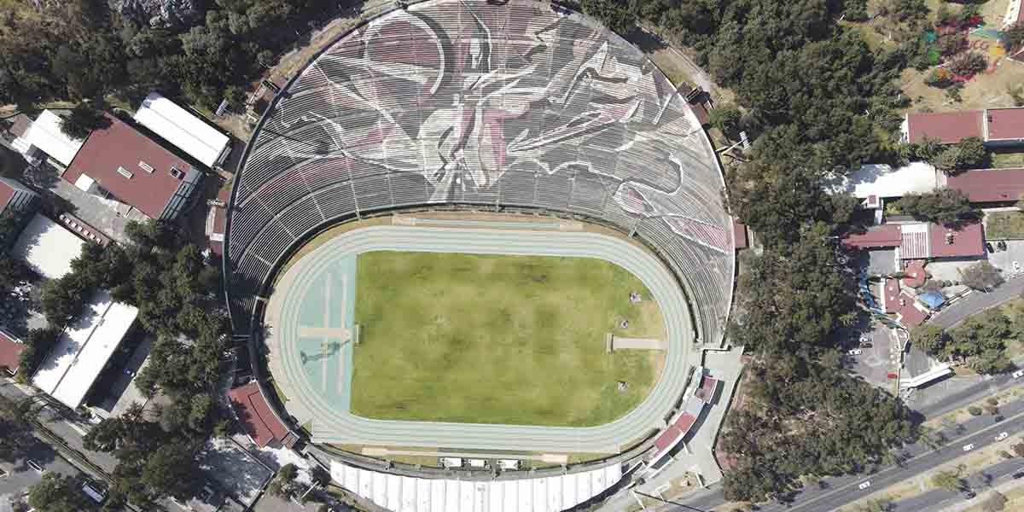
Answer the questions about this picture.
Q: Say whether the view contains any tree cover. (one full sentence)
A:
Yes, there's tree cover in this view.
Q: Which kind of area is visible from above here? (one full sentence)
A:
This looks like a sports ground.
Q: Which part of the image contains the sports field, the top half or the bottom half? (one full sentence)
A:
The sports field is in the bottom half of the image.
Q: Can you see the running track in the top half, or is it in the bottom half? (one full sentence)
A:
The bottom half of the photo is where the running track is.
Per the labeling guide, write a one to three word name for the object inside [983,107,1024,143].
building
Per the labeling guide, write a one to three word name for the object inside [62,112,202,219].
building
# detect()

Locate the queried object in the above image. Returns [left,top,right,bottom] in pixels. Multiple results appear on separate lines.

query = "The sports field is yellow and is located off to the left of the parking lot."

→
[351,253,669,421]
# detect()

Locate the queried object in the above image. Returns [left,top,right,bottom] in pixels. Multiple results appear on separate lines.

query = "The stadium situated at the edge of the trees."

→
[220,0,738,512]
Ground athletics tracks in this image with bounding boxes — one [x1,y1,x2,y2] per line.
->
[266,224,697,450]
